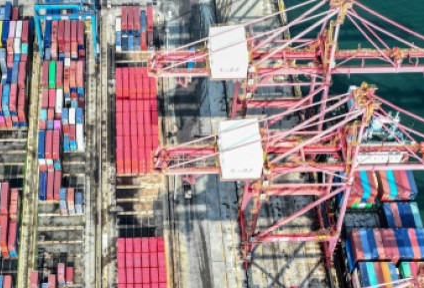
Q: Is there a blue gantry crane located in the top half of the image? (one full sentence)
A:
Yes, a blue gantry crane can be seen in the top half of the image.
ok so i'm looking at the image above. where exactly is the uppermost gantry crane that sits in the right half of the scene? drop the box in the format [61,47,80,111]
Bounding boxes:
[148,0,424,169]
